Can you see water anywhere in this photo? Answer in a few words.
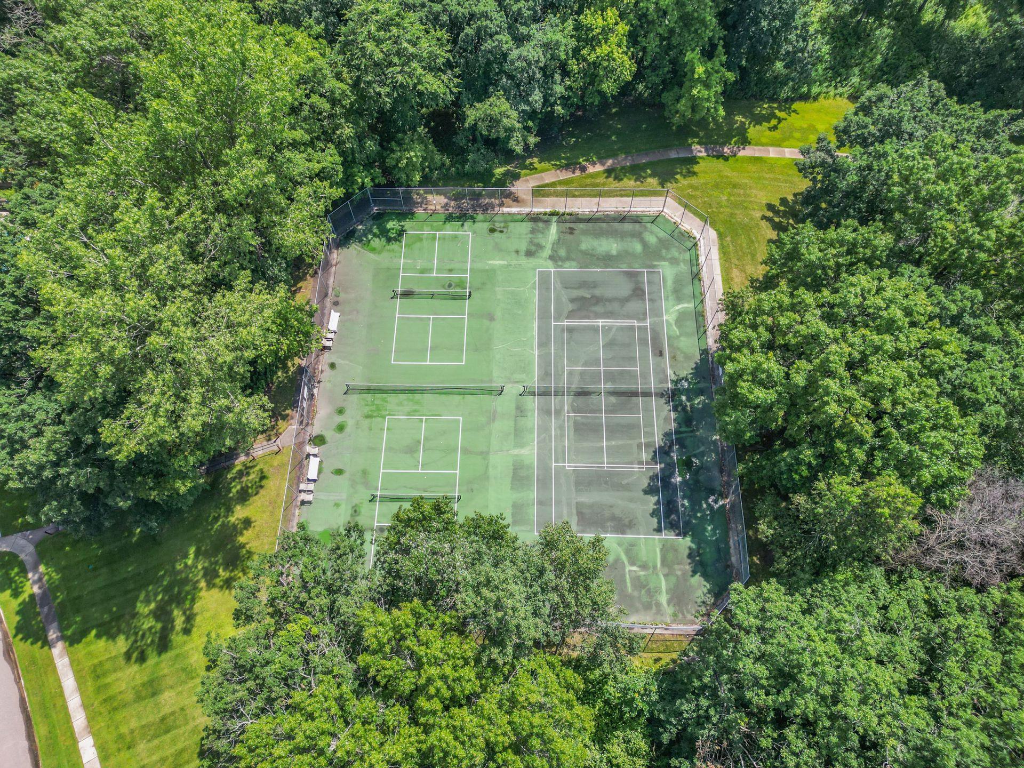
No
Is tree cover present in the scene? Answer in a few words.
Yes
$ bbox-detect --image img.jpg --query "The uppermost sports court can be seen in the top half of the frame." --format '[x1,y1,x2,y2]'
[392,233,471,364]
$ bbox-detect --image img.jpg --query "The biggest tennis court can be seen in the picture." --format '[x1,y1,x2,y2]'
[535,269,682,537]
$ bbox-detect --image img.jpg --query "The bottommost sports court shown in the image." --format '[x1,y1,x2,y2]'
[369,417,461,588]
